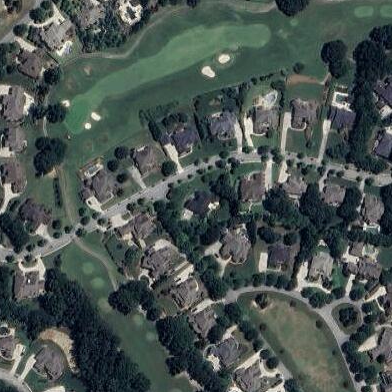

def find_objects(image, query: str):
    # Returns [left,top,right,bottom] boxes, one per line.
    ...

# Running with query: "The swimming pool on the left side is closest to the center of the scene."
[80,163,104,182]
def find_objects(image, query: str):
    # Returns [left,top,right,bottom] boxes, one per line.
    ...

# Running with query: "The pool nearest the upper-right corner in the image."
[331,92,349,106]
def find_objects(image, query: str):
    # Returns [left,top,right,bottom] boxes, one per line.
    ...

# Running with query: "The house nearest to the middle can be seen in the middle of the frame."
[183,190,217,215]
